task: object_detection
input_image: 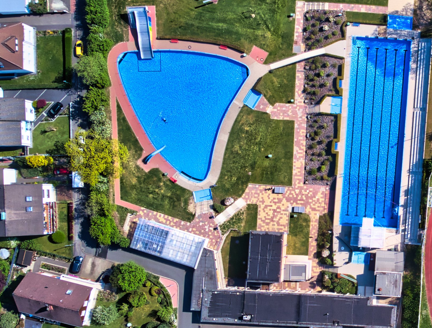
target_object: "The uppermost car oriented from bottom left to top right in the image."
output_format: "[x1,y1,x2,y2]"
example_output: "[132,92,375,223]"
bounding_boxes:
[48,101,62,119]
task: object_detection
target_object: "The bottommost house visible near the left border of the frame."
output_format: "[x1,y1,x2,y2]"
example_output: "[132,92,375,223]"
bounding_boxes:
[12,272,108,328]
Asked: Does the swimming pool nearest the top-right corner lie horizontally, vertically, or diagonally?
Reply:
vertically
